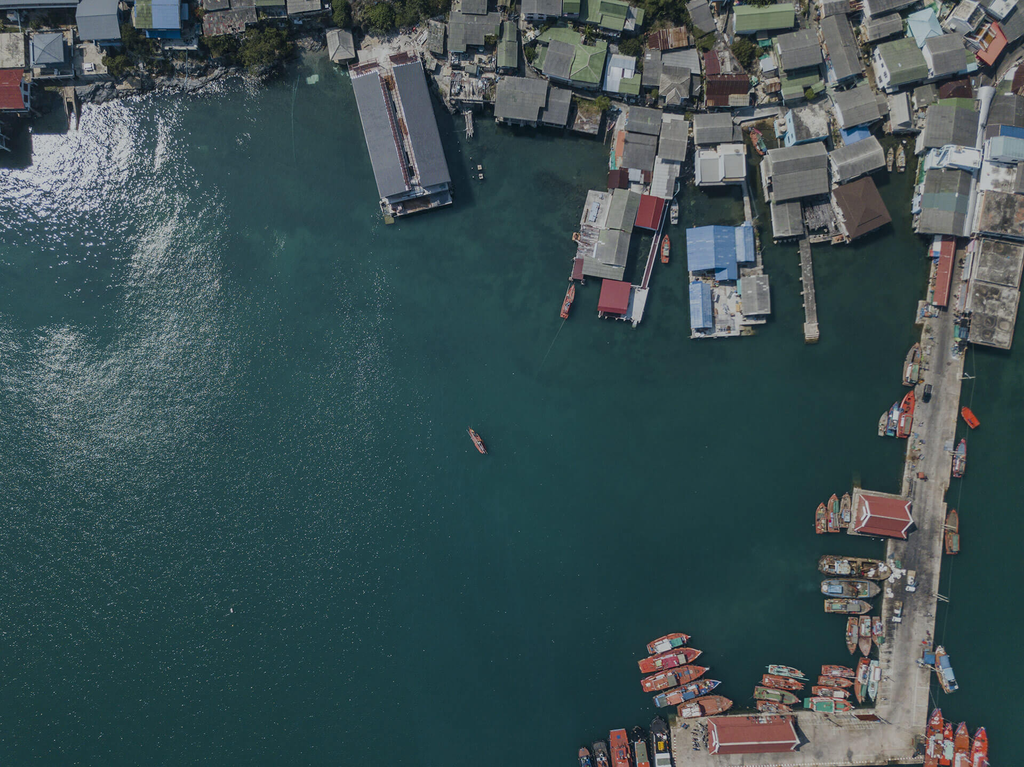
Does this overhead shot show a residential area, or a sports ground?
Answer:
residential area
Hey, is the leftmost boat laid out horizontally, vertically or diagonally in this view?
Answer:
diagonally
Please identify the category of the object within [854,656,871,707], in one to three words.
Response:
boat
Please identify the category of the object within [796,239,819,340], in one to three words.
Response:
pier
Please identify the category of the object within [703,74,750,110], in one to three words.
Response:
house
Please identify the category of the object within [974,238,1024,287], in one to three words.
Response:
building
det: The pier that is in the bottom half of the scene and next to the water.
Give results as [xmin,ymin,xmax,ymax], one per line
[670,238,967,767]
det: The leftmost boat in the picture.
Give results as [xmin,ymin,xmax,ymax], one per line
[467,426,489,456]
